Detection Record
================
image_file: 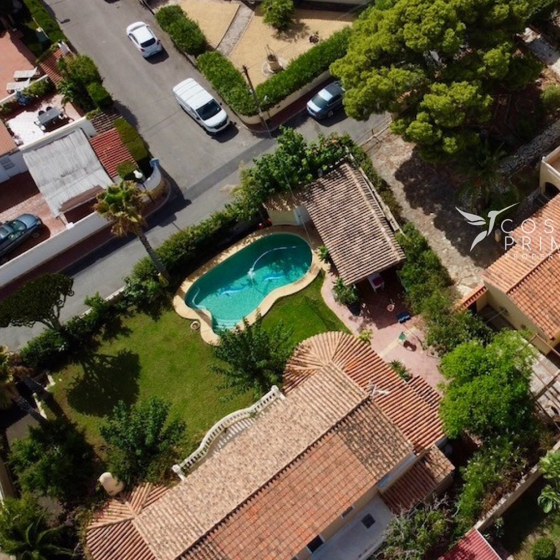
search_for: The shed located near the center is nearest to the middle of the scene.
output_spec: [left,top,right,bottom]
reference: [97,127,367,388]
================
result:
[260,162,408,302]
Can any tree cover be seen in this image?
Yes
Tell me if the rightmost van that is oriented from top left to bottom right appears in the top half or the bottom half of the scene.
top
